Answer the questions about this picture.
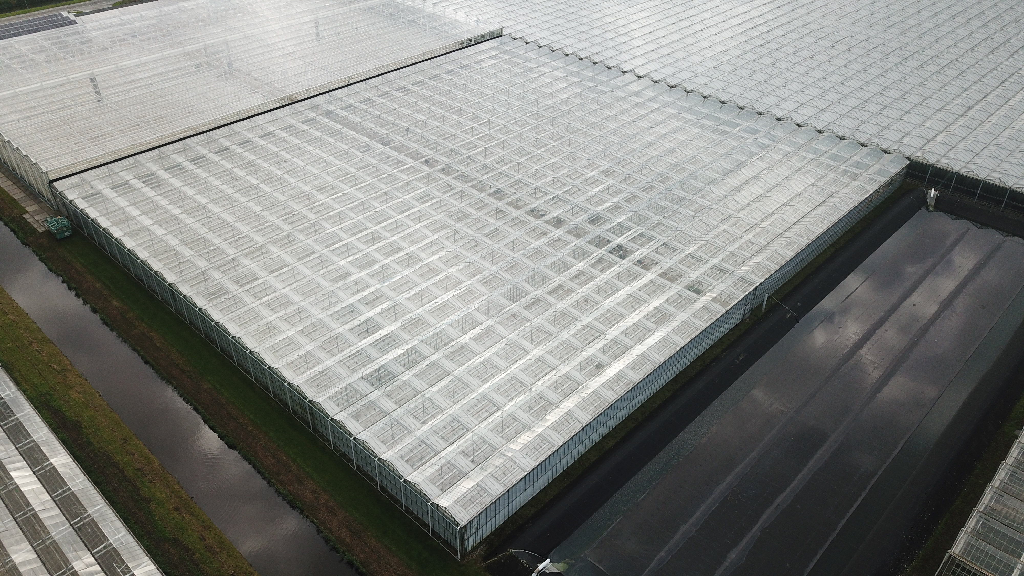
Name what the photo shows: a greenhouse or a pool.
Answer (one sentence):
The one in the frame is a greenhouse.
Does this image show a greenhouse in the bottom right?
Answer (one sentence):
Yes, looking in the bottom right, one can make out a greenhouse.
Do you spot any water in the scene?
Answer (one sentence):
Yes, the picture does contain water.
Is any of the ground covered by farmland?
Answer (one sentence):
No, the scene doesn't show any farmland.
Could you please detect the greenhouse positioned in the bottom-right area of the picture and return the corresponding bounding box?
[937,419,1024,576]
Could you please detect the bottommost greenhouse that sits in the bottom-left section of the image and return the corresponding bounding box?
[0,365,165,576]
